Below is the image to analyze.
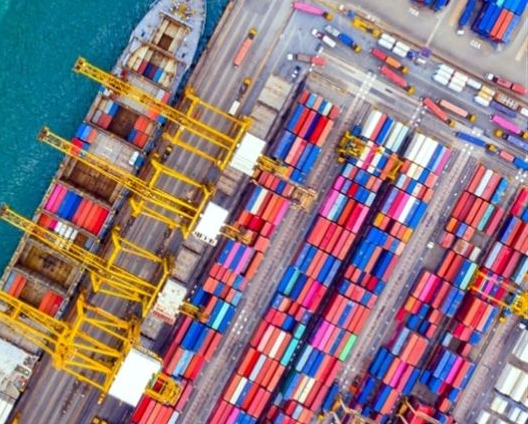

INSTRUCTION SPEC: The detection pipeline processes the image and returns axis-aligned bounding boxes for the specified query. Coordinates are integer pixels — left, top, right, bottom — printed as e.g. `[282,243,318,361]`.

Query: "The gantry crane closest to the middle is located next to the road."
[245,161,320,213]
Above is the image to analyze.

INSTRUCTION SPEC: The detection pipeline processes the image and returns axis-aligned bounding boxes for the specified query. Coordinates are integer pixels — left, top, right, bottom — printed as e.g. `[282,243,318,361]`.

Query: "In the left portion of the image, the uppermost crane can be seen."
[75,51,296,178]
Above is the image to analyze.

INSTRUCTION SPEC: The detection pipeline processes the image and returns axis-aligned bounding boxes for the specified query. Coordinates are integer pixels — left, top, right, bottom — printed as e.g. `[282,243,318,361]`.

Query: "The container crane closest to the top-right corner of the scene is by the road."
[328,125,409,178]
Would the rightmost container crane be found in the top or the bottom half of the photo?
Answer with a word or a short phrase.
bottom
